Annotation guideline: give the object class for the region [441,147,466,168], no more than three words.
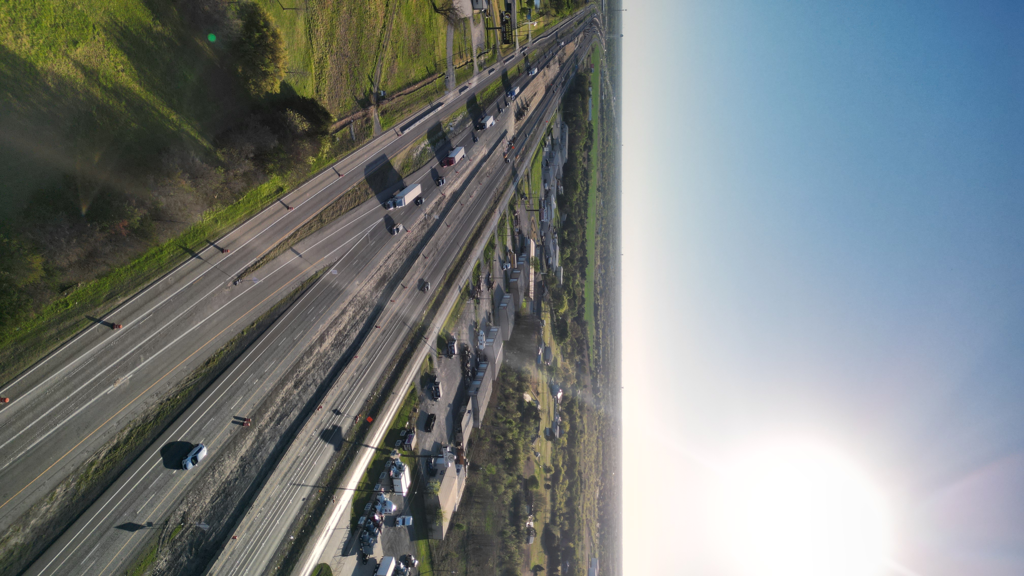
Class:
truck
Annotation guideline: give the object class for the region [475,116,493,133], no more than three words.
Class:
vehicle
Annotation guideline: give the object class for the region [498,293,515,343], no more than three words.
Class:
shed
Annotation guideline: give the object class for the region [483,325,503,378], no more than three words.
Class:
shed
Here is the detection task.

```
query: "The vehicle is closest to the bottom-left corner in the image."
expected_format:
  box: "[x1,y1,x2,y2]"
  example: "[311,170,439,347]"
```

[180,441,208,472]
